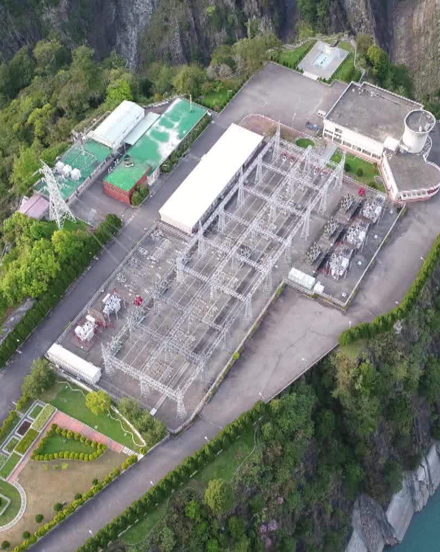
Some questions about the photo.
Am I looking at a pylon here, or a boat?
pylon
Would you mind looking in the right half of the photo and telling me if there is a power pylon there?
No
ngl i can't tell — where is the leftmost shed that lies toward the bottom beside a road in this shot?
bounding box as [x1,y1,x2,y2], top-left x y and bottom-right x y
[47,344,103,384]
